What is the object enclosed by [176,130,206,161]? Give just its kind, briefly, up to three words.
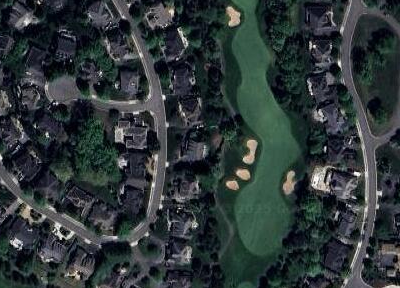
house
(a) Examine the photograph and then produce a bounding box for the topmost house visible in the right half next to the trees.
[306,3,334,35]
